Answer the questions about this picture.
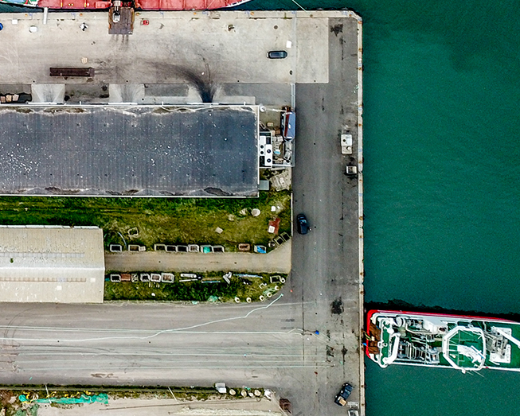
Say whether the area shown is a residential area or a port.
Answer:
port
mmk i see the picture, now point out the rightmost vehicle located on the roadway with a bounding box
[335,382,351,404]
